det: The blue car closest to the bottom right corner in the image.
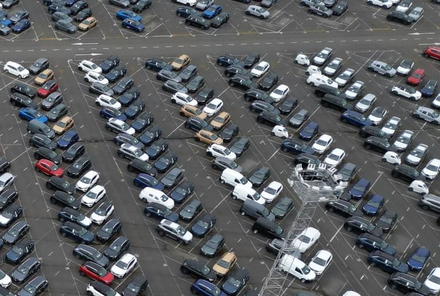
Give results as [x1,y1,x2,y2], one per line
[405,245,431,273]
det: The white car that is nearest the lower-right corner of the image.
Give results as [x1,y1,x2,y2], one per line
[422,268,440,296]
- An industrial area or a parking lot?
parking lot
